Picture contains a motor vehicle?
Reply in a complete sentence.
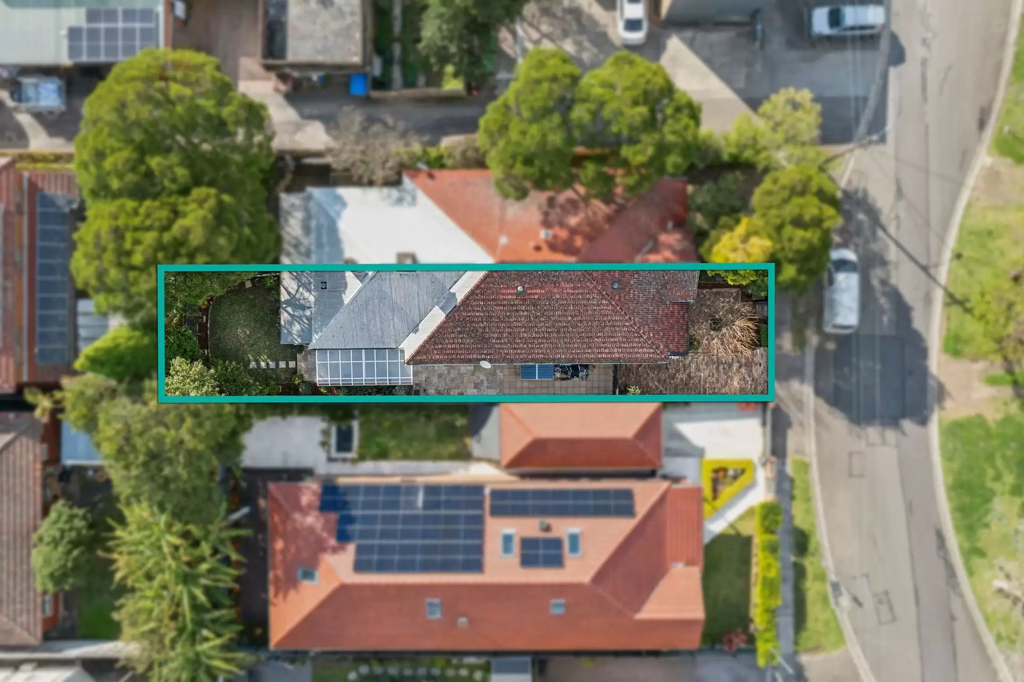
Yes, looking at the shot, I can spot a motor vehicle.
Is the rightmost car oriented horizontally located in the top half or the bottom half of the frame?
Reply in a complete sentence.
The rightmost car oriented horizontally sits in the top half of the picture.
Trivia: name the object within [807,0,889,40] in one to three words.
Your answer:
car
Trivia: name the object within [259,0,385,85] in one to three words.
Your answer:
building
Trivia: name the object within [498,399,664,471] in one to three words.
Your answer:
building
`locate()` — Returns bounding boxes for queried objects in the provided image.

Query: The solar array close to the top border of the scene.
[67,8,155,60]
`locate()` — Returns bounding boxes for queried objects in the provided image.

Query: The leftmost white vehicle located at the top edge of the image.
[617,0,649,44]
